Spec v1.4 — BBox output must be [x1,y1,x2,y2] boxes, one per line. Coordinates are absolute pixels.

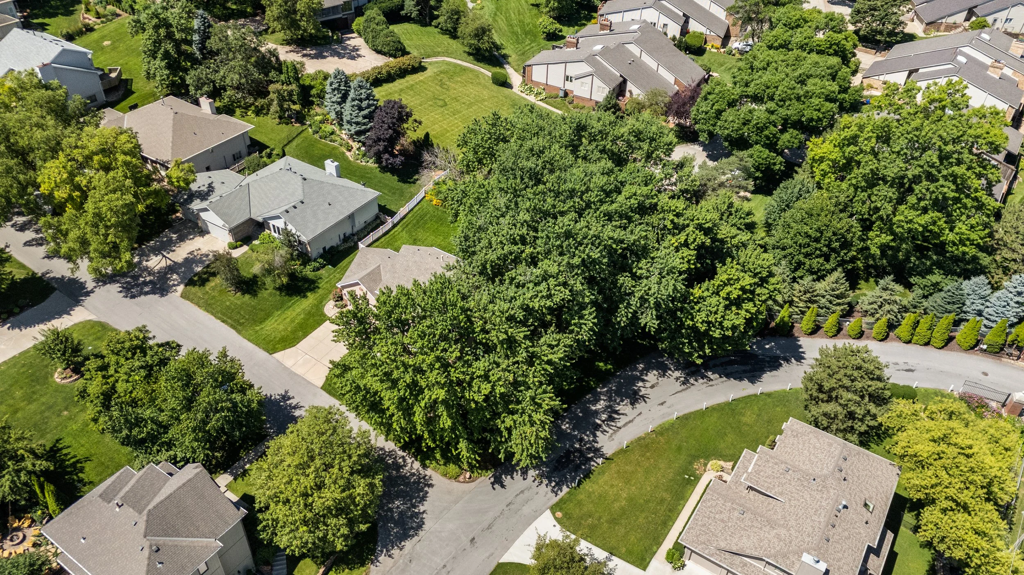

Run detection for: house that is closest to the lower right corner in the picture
[677,417,902,575]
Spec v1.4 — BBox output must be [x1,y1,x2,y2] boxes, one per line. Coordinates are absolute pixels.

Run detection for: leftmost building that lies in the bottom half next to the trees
[39,461,254,575]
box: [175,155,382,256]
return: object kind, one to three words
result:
house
